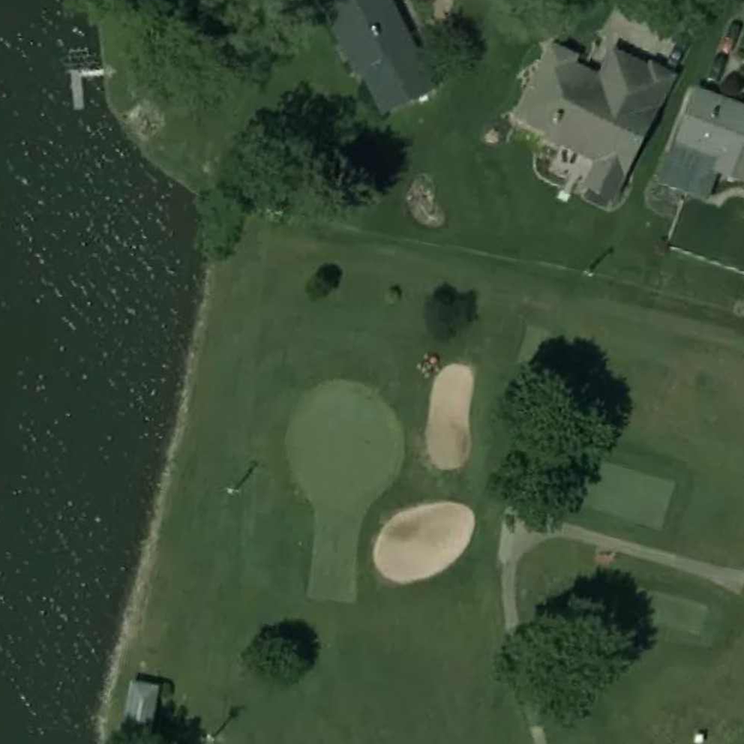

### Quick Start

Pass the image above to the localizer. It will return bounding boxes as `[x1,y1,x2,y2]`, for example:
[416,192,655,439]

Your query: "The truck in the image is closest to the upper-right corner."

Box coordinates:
[719,16,744,54]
